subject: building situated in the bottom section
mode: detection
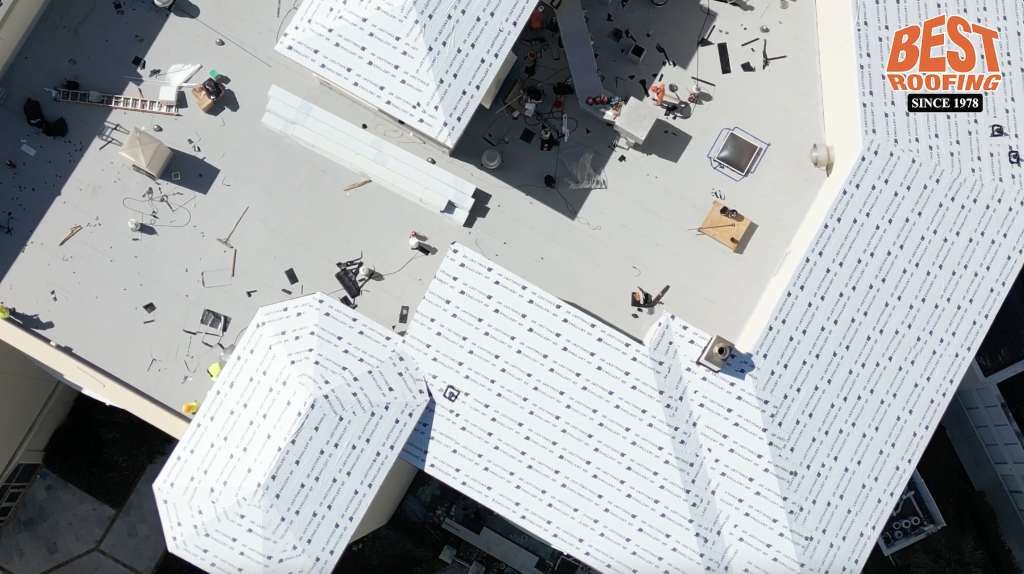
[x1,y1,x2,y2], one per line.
[155,292,429,574]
